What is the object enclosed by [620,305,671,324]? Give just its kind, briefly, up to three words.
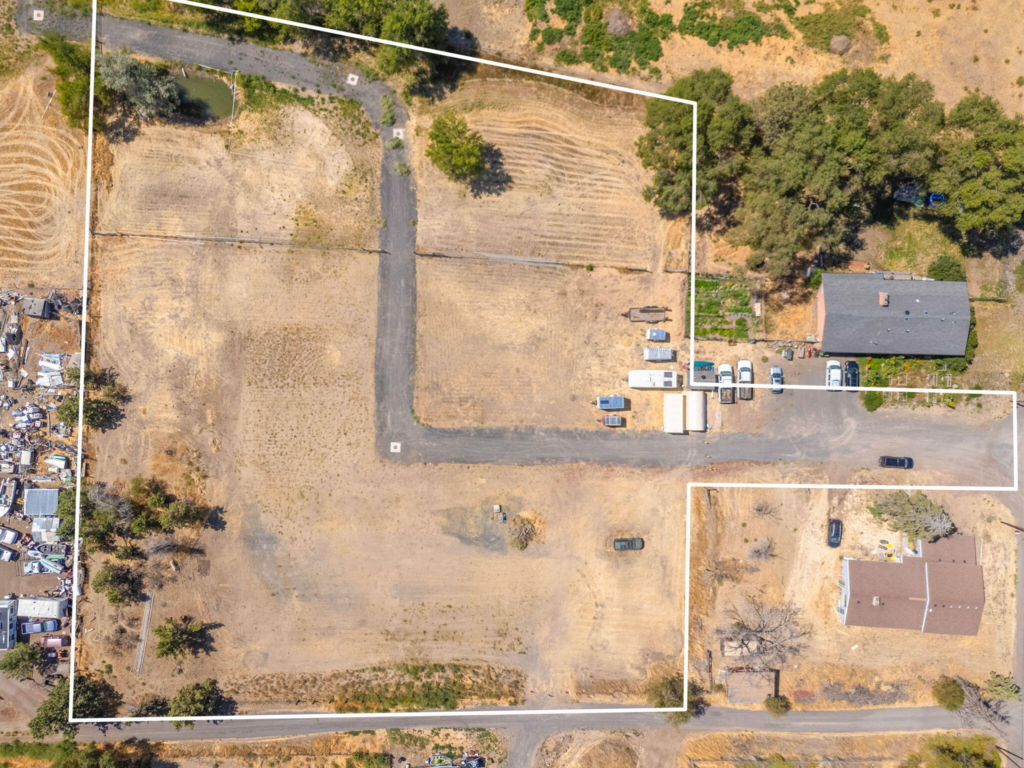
trailer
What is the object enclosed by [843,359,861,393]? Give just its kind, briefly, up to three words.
car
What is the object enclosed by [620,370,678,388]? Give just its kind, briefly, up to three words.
camper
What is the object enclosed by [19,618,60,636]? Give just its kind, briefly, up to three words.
vehicle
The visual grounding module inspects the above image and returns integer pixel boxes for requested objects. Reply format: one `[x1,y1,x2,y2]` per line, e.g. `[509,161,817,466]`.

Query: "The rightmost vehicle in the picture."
[877,455,913,471]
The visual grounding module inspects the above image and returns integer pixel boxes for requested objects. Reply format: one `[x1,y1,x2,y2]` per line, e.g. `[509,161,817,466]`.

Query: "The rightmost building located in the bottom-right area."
[831,534,985,636]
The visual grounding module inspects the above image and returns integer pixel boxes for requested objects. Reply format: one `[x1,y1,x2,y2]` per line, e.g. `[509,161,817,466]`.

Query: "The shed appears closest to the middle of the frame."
[684,370,716,389]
